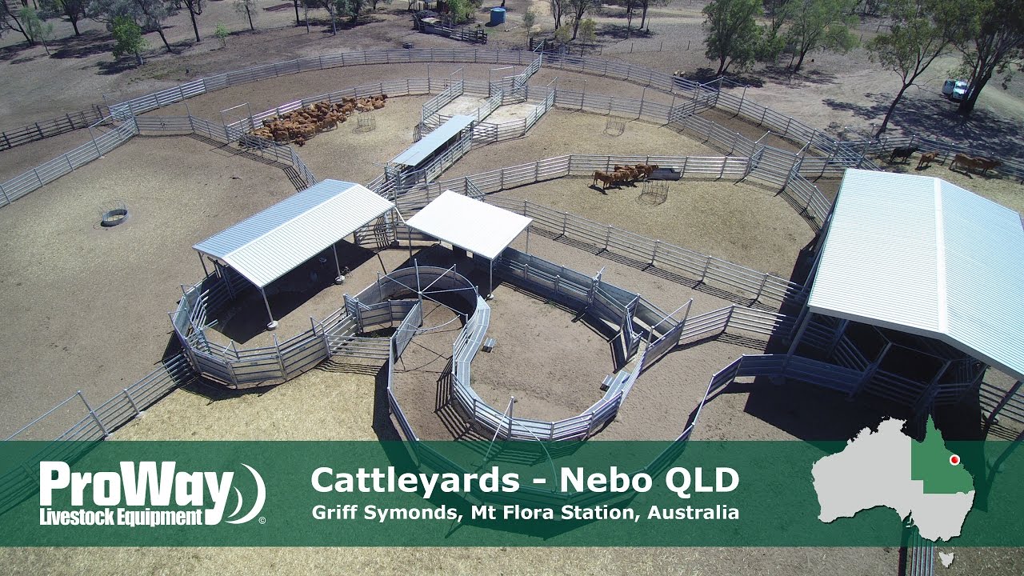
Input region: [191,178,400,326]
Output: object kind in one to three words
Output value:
shed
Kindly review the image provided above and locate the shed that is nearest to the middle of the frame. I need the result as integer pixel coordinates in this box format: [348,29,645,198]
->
[405,189,534,293]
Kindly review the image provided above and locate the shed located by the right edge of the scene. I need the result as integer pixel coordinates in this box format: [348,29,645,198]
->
[779,168,1024,457]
